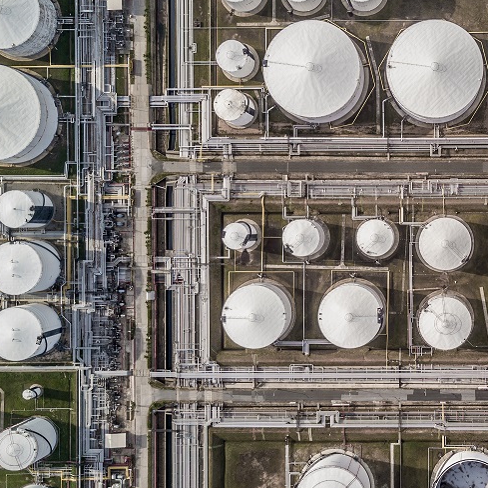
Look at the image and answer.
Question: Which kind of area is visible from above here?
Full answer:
This looks like an industrial area.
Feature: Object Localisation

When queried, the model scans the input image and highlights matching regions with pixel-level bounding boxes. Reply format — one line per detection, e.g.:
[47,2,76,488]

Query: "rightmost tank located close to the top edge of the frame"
[379,20,488,136]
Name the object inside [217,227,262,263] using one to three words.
storage tank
